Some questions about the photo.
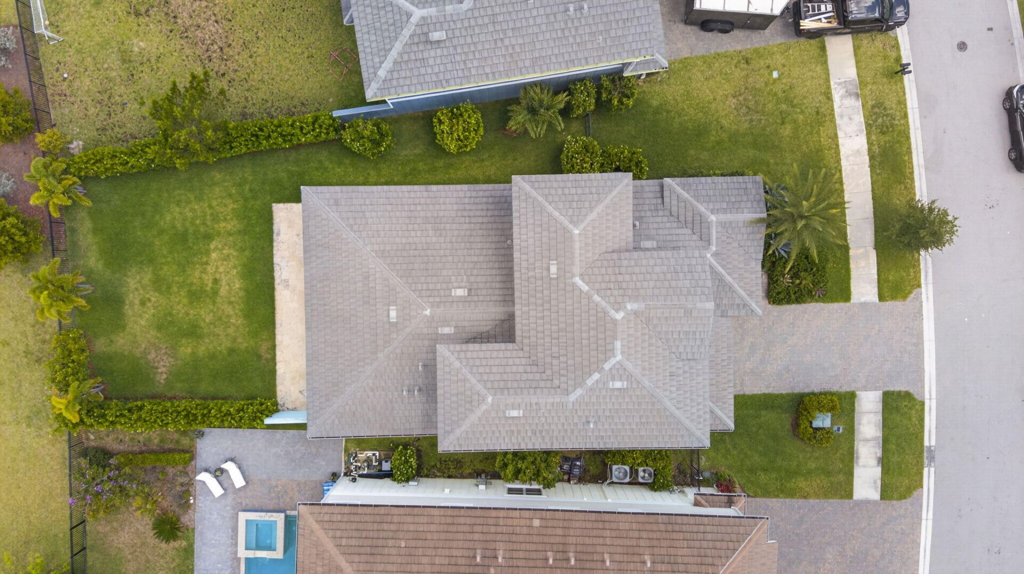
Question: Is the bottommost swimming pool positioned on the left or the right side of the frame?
left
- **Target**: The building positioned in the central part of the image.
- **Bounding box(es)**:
[300,171,769,456]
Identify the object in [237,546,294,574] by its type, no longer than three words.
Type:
swimming pool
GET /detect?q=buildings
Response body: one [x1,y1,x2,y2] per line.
[300,171,769,456]
[339,0,670,117]
[293,476,782,574]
